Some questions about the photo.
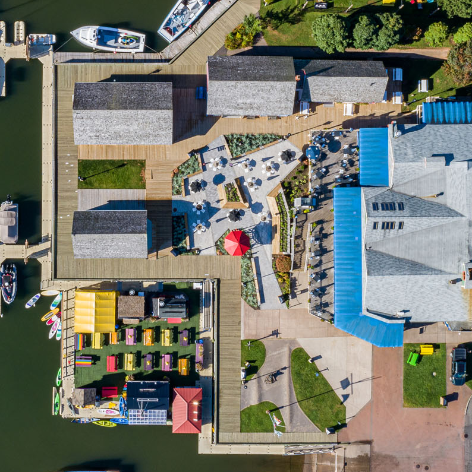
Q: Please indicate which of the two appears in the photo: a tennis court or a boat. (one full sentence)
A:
The one in the frame is a boat.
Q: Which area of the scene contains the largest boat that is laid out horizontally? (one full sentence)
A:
You can find the largest boat that is laid out horizontally in the top left area of the picture.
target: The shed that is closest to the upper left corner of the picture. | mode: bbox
[70,82,173,145]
